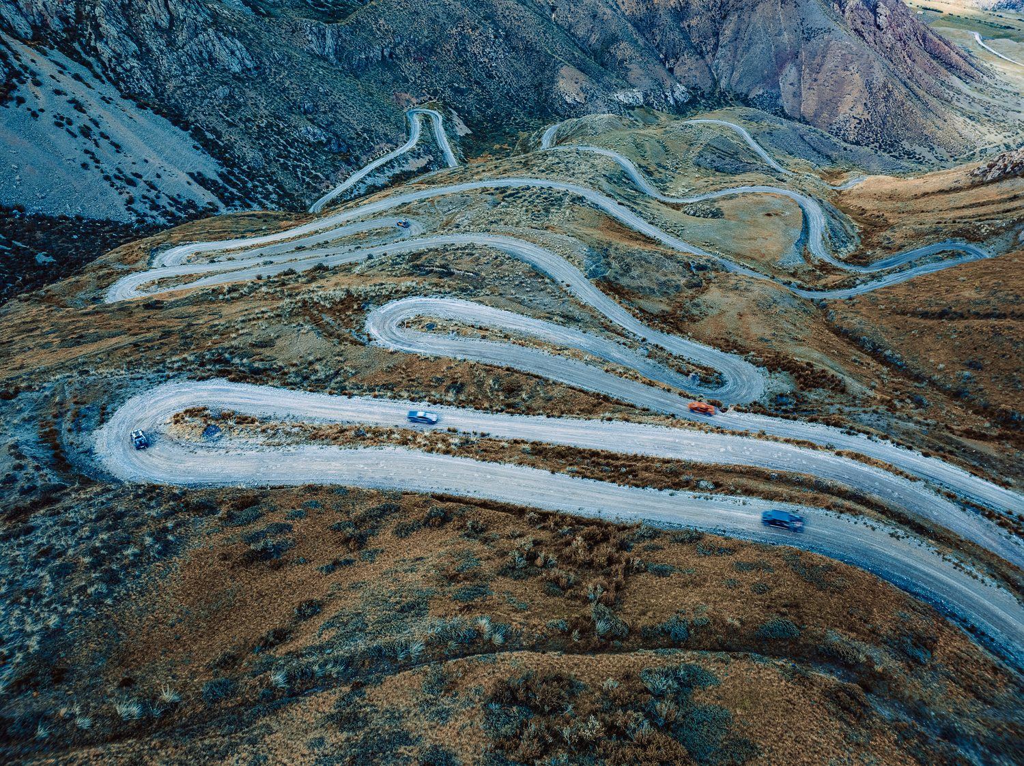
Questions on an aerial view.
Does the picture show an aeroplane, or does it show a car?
car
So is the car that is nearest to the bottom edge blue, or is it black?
blue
